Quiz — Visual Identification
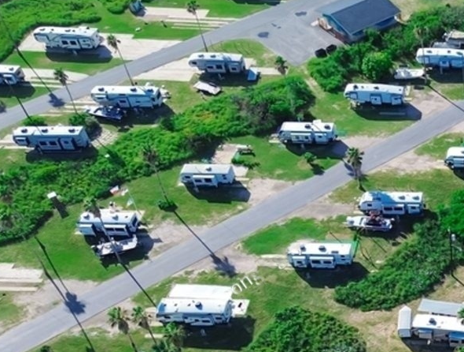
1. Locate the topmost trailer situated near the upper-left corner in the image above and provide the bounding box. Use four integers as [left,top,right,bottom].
[37,25,109,53]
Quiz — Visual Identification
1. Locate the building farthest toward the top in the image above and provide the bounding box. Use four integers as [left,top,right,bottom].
[318,0,401,43]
